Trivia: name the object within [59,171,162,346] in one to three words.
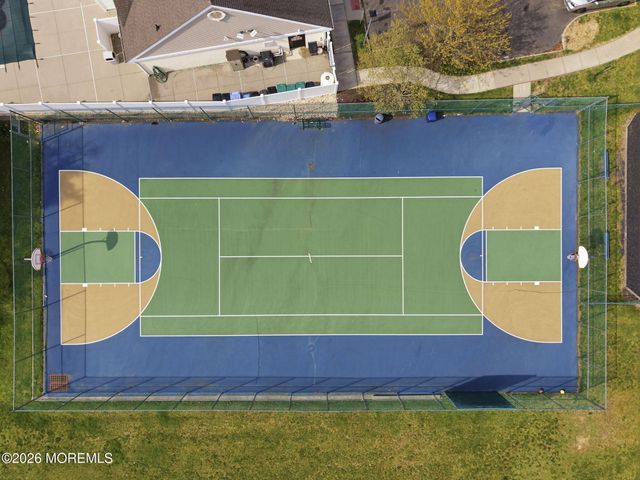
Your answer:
basketball court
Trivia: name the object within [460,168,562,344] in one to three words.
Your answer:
basketball court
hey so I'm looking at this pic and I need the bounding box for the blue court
[42,112,579,393]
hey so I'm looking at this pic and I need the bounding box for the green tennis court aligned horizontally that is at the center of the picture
[139,176,484,338]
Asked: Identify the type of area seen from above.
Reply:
sports ground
